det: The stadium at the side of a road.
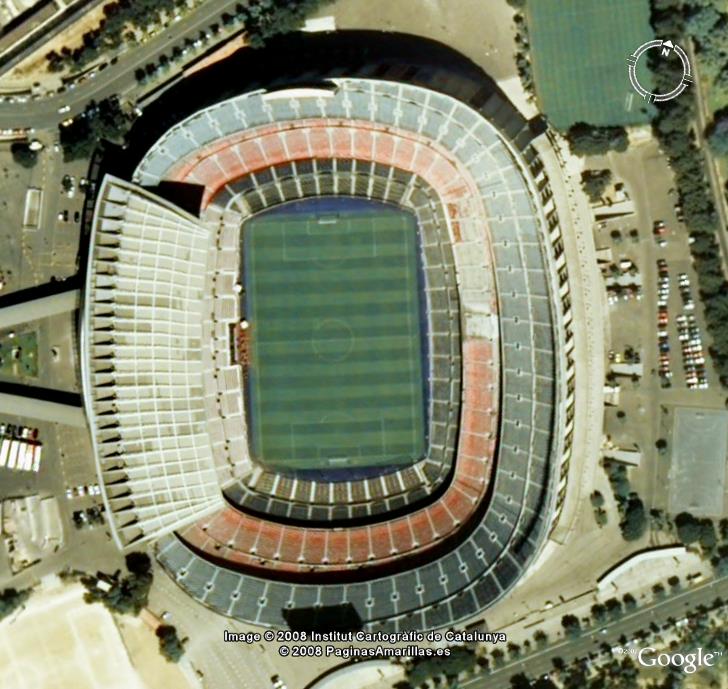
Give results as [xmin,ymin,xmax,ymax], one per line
[74,63,583,646]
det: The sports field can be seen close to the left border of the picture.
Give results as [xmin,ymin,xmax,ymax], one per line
[0,590,140,689]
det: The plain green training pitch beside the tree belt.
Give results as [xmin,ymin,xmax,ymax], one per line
[528,0,655,128]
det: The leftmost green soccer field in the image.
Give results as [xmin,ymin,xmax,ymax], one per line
[250,210,424,469]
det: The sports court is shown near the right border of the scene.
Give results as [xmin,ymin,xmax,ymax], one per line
[670,407,728,518]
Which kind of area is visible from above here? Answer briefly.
sports ground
